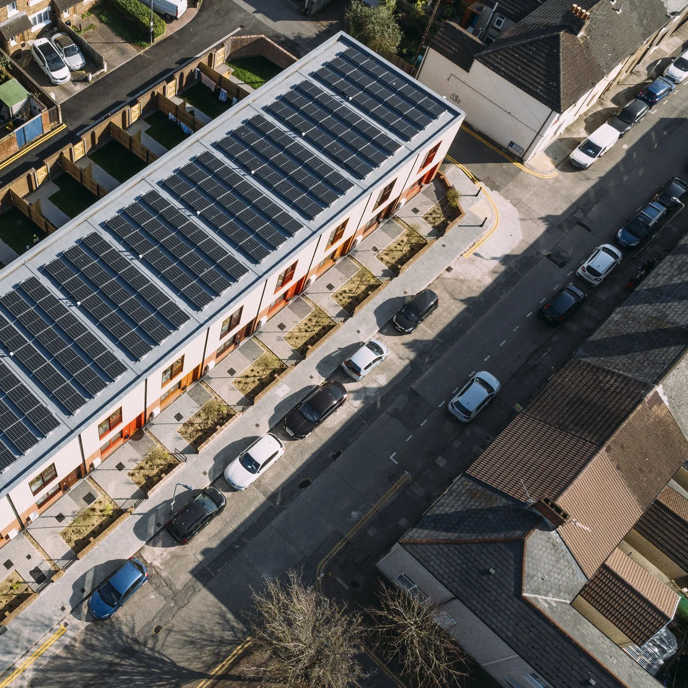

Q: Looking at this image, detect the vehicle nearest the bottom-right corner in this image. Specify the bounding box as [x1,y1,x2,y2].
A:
[443,366,502,430]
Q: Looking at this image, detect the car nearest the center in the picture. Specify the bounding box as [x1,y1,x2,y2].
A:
[339,334,396,388]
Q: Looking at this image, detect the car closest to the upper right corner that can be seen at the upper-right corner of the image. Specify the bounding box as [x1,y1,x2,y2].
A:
[661,43,688,85]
